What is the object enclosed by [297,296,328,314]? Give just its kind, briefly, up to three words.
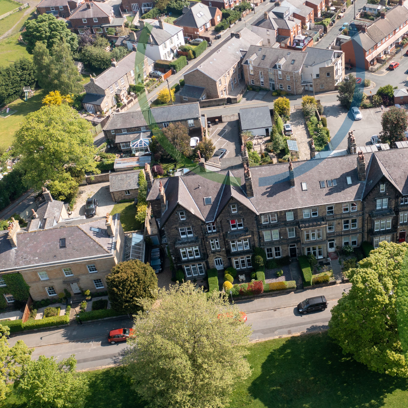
car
